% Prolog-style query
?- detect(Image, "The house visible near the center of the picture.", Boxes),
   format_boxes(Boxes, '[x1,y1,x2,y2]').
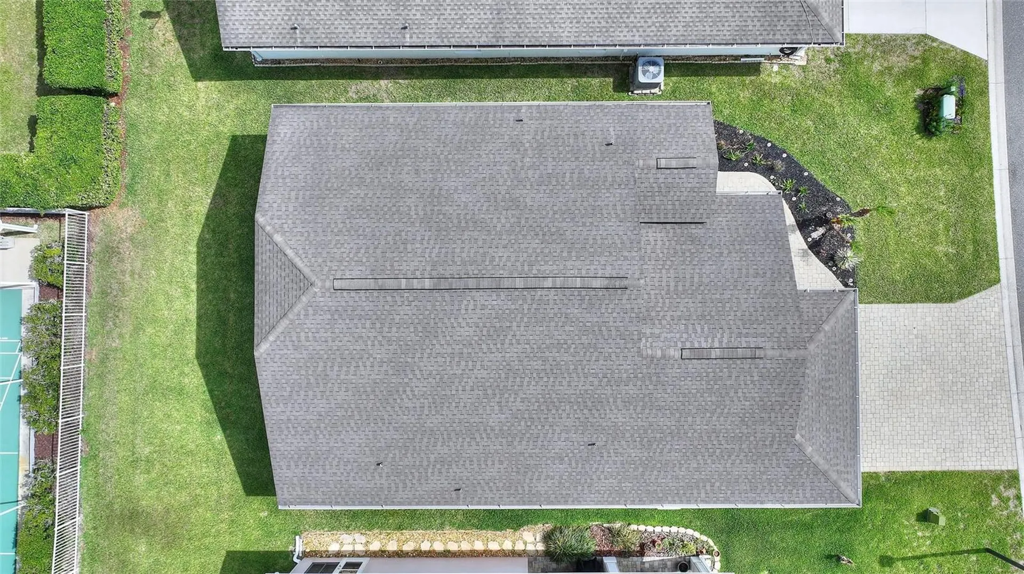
[252,99,864,513]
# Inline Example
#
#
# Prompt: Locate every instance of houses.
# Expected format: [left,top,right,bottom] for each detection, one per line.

[252,99,864,513]
[266,535,734,574]
[215,0,844,64]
